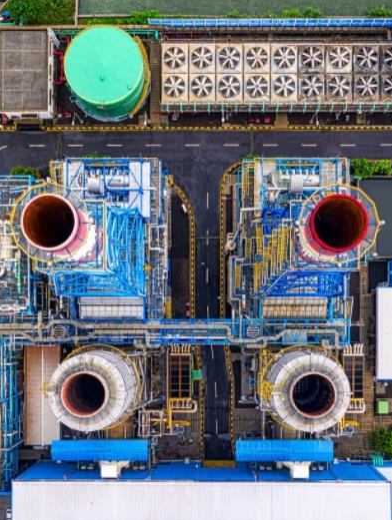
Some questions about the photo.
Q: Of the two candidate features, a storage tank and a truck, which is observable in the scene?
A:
storage tank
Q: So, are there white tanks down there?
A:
No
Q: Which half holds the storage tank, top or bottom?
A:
top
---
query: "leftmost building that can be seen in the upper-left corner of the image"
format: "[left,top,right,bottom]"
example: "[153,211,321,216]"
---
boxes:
[0,28,57,122]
